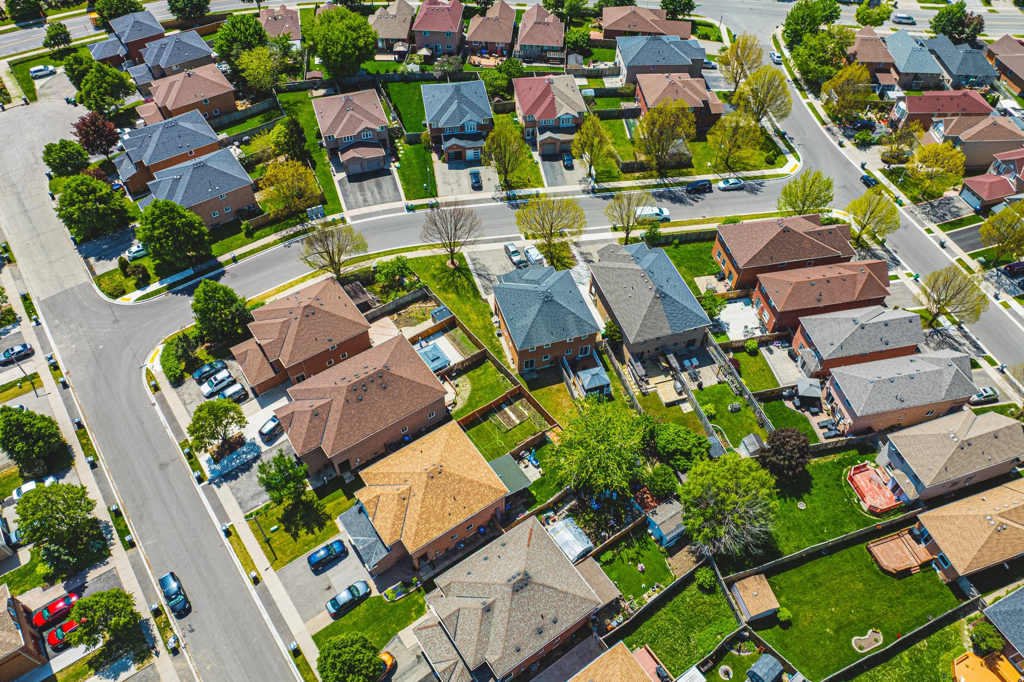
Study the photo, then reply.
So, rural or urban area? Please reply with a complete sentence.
The land in this view is best described as urban.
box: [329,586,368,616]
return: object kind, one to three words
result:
car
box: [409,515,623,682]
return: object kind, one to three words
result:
house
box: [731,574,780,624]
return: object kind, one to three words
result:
shed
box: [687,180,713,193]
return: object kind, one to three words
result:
vehicle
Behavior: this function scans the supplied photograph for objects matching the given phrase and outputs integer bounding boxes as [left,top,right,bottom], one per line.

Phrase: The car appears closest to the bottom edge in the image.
[367,655,400,682]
